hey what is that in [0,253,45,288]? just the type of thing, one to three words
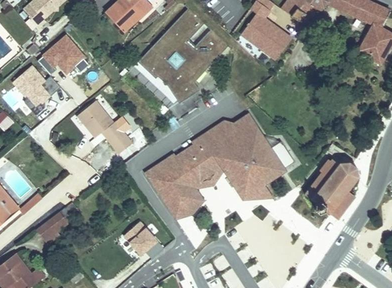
house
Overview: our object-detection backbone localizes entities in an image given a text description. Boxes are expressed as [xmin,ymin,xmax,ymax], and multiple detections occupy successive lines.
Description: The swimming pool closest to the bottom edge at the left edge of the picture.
[0,161,34,204]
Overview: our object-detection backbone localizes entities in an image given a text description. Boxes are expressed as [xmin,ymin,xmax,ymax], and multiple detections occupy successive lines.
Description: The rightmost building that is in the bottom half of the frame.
[310,158,361,220]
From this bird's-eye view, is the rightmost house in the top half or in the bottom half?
top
